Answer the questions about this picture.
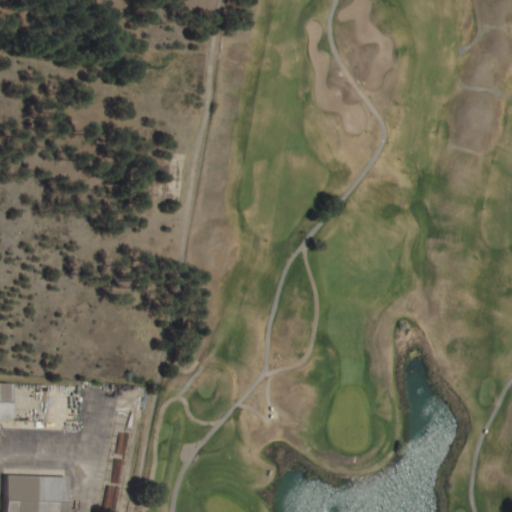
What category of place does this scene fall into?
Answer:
golf course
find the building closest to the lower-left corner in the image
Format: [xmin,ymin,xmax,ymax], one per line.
[2,468,72,512]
